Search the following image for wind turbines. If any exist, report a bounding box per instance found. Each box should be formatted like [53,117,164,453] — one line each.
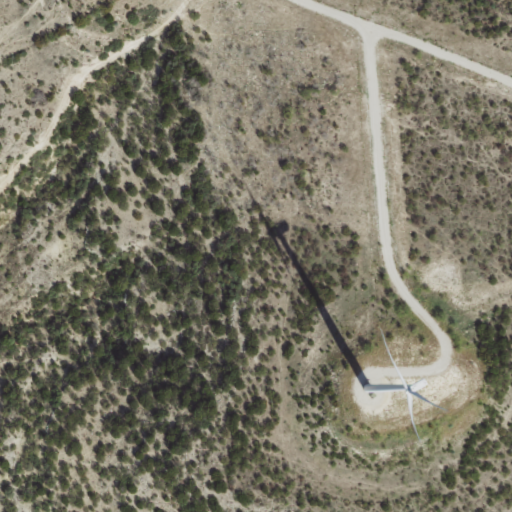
[362,327,449,436]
